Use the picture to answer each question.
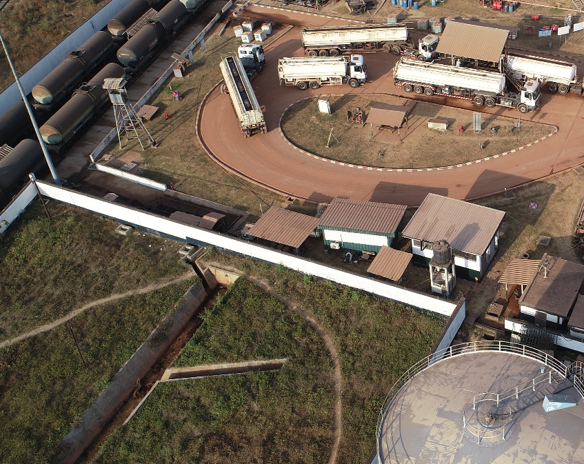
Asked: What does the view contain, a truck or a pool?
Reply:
truck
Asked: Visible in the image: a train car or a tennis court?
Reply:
train car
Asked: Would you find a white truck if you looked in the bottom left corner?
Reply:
No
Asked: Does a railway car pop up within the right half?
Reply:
No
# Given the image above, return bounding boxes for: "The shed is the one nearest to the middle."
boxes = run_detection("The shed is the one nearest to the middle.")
[248,206,319,252]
